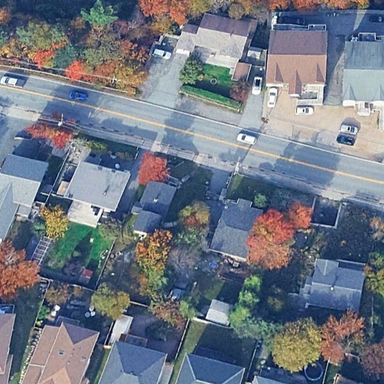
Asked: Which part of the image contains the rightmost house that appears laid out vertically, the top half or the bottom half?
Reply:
top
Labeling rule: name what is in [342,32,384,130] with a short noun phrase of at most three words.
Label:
house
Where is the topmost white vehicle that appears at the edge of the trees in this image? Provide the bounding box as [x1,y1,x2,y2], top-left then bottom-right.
[151,47,174,59]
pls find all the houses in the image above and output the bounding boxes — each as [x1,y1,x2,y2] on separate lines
[177,344,245,384]
[0,153,49,240]
[176,13,257,69]
[333,375,363,384]
[133,178,181,237]
[65,160,130,225]
[22,315,99,384]
[286,258,365,313]
[101,333,167,384]
[266,23,328,106]
[342,32,384,130]
[210,198,264,261]
[0,305,16,384]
